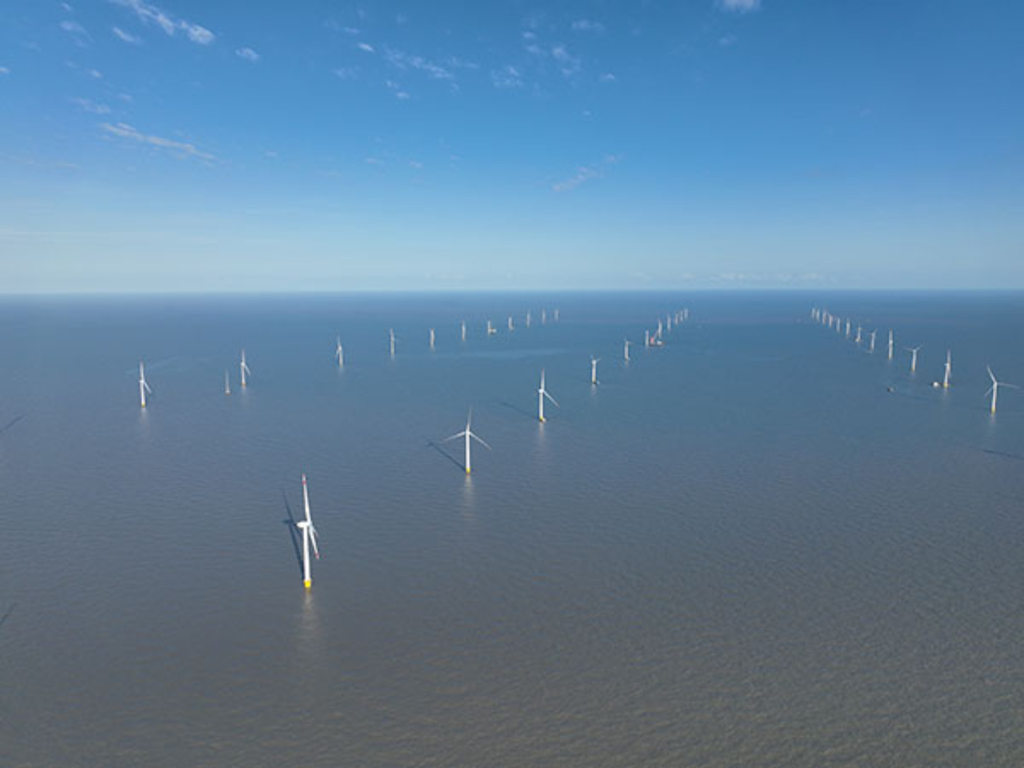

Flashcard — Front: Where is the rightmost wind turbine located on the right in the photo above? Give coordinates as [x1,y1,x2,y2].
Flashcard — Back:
[986,369,1021,412]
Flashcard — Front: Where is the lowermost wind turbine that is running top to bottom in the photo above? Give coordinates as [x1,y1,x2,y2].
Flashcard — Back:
[294,473,318,587]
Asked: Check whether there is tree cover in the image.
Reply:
No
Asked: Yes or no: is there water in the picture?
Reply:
Yes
